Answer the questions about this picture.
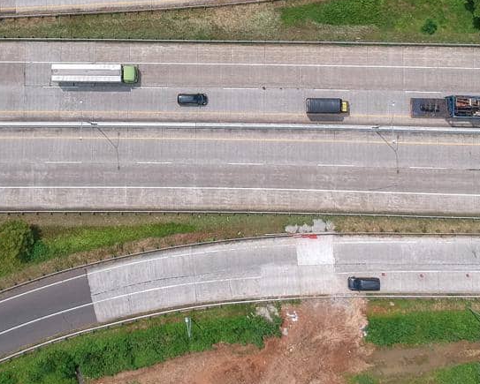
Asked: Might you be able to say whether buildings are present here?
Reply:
No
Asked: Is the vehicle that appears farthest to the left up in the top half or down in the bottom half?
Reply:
top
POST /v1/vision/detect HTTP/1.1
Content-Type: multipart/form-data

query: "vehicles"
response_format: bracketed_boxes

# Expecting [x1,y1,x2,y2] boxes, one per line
[176,93,207,106]
[347,276,382,293]
[51,64,140,85]
[410,97,480,118]
[305,97,350,114]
